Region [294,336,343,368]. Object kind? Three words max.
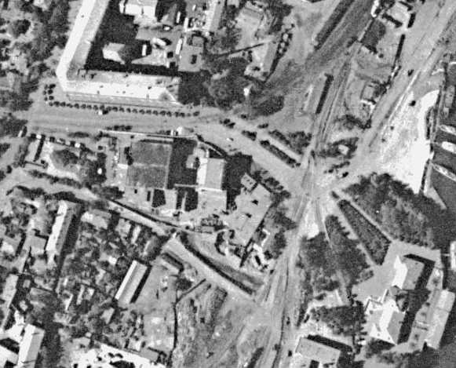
building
